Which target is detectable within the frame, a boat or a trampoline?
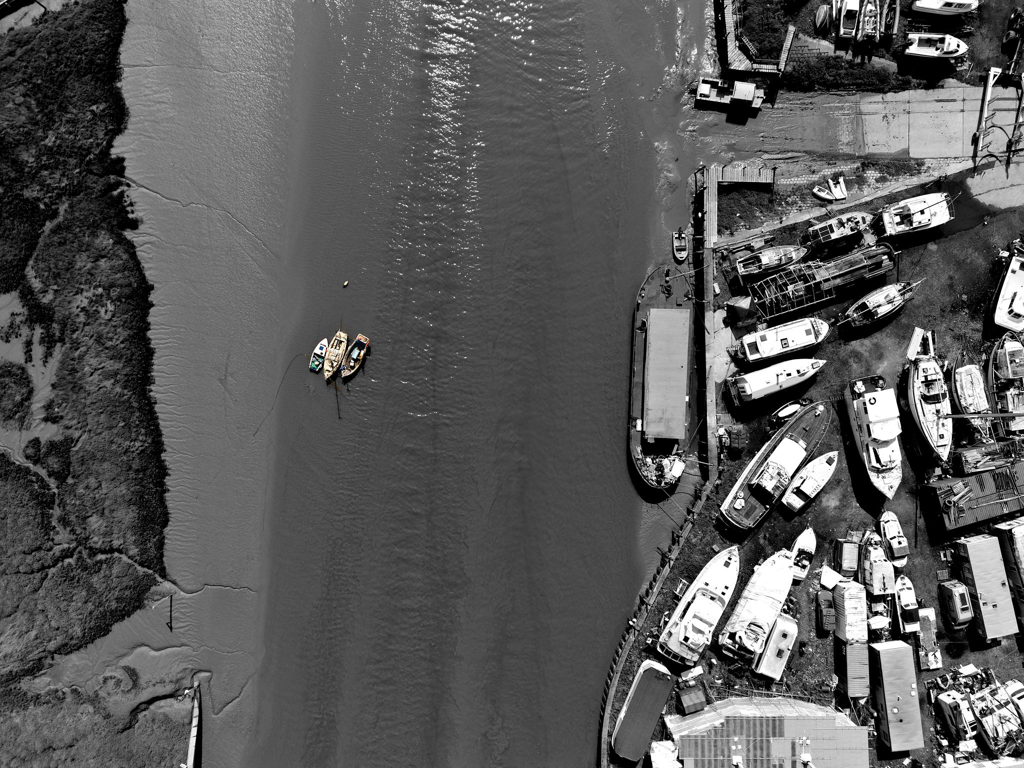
boat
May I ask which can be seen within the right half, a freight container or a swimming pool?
freight container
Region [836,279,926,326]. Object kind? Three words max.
boat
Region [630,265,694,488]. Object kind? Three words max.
ship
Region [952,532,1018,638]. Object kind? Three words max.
house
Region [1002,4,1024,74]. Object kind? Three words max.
work vehicle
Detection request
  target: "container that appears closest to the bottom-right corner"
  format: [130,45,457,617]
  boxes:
[836,636,870,698]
